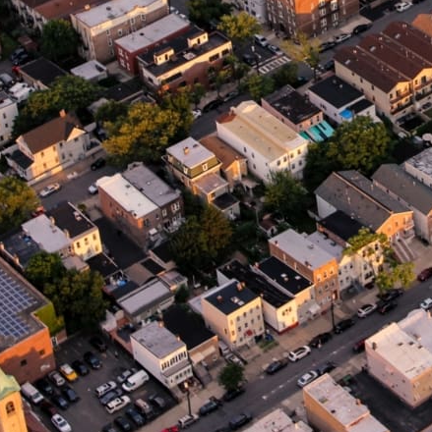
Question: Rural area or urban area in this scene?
urban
